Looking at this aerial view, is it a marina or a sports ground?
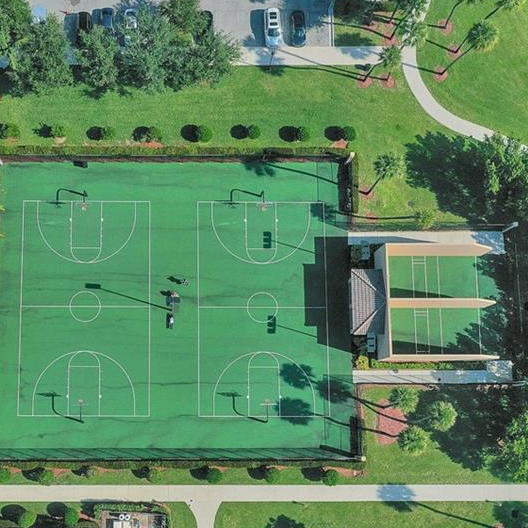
sports ground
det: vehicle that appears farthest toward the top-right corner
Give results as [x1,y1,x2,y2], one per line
[289,11,307,47]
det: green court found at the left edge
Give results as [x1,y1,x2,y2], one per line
[0,163,174,458]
